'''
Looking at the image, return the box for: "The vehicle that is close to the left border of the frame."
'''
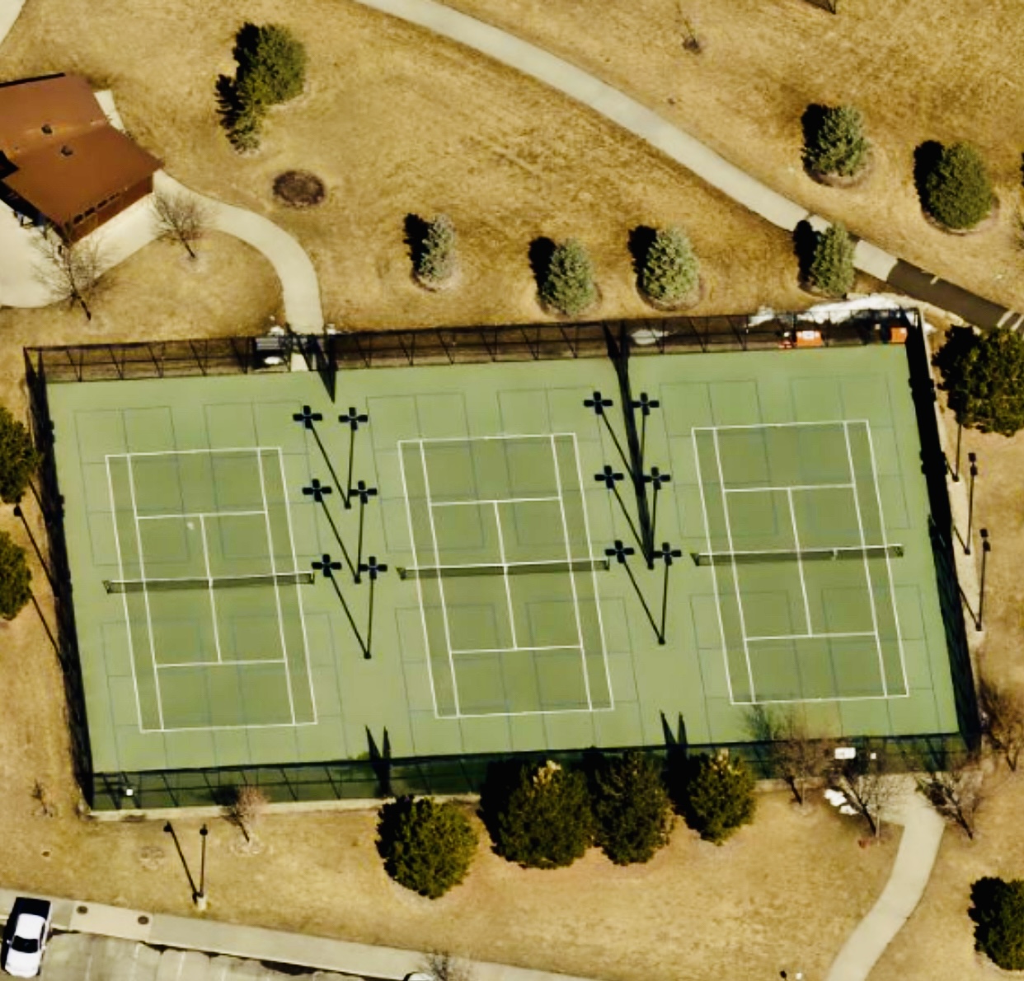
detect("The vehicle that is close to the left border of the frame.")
[7,897,51,980]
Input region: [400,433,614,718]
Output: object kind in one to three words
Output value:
tennis court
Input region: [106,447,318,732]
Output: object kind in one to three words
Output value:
tennis court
